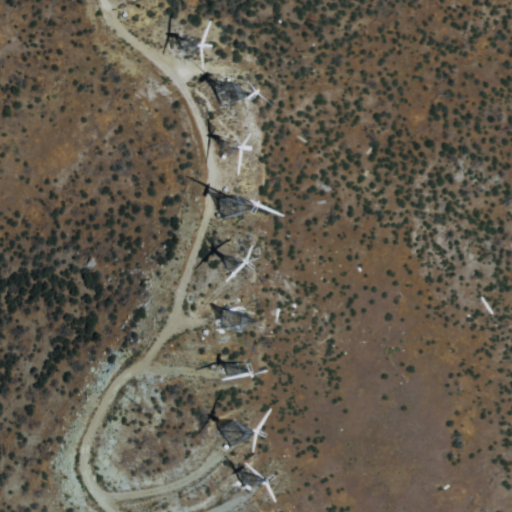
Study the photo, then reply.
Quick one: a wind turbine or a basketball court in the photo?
wind turbine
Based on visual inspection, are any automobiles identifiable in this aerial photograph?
No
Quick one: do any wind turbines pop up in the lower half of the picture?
Yes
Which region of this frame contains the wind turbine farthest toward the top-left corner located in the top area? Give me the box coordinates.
[178,20,214,70]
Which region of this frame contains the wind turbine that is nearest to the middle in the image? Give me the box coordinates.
[222,245,260,282]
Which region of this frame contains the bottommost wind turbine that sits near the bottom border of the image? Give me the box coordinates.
[242,464,276,502]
